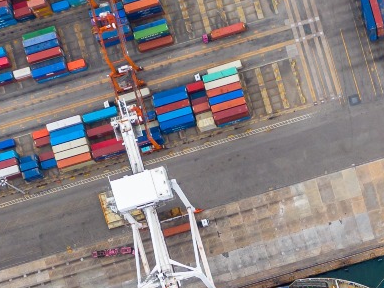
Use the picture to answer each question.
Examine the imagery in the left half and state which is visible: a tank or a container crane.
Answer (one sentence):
Looking in the left half, you will find a container crane.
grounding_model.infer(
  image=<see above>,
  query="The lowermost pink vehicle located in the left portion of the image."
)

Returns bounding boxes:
[90,240,134,260]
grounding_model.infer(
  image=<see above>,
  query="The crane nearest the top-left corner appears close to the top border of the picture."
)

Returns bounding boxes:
[84,0,146,77]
